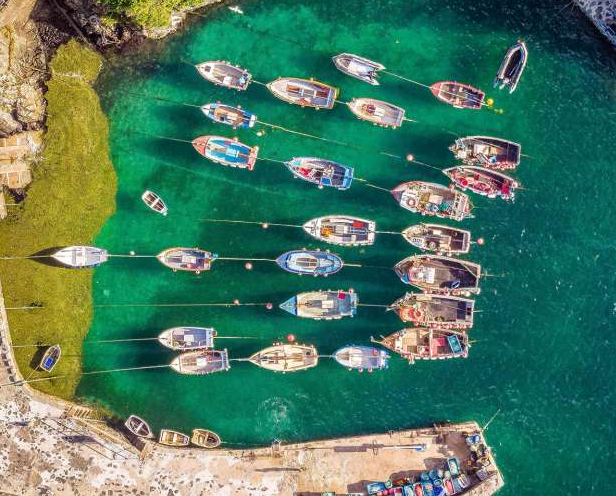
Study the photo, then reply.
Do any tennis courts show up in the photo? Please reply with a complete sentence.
No, no tennis court is visible in the scene.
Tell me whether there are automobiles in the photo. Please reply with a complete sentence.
No, I find no automobile anywhere in the image.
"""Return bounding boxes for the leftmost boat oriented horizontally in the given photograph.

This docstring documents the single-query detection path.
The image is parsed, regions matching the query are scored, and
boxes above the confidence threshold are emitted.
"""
[50,245,108,269]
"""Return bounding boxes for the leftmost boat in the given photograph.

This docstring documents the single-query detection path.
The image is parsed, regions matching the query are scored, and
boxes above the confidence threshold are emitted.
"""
[37,345,61,374]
